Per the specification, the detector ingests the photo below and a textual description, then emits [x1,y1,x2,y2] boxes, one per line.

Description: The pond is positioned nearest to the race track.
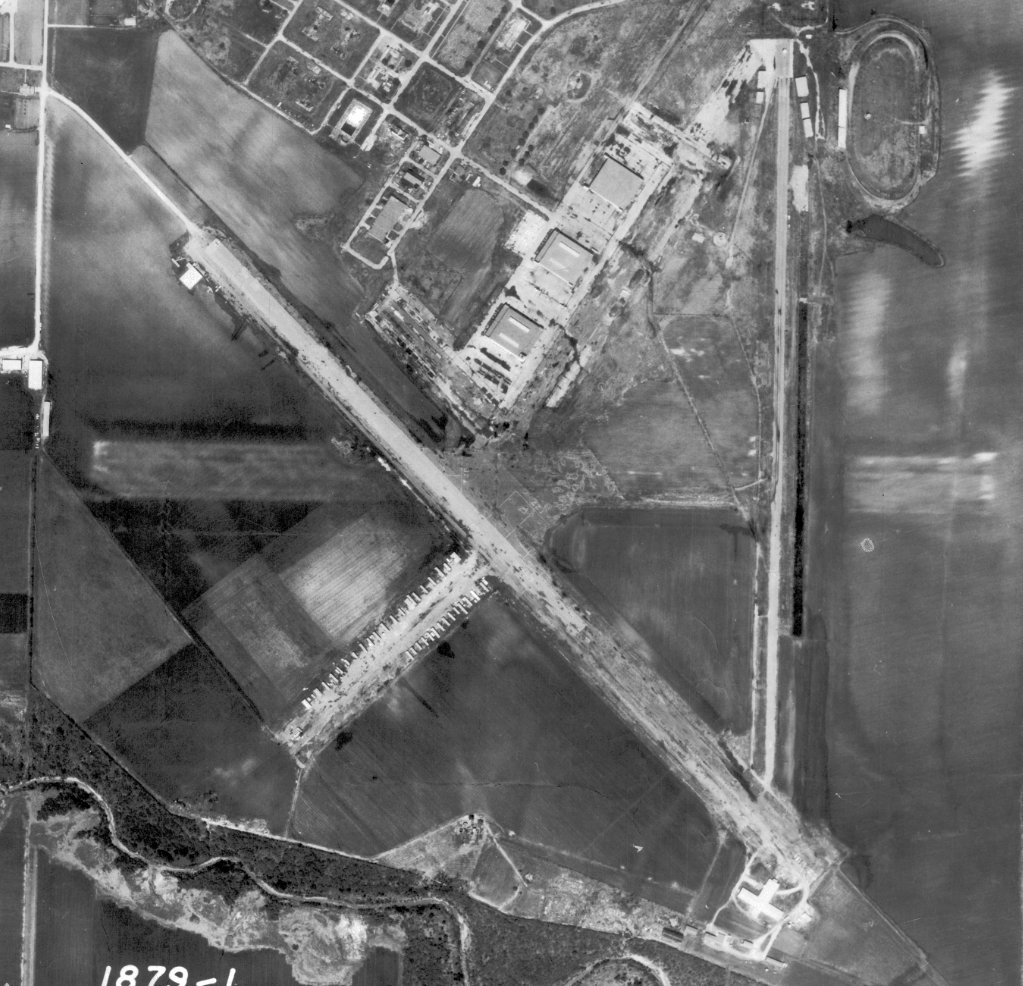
[851,216,944,268]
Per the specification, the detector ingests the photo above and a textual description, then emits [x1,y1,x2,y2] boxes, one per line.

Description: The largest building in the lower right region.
[738,878,785,922]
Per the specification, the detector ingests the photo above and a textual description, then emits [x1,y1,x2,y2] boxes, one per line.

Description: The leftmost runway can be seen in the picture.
[207,240,584,634]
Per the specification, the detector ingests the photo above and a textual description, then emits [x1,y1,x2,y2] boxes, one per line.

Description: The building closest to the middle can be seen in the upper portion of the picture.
[486,304,543,360]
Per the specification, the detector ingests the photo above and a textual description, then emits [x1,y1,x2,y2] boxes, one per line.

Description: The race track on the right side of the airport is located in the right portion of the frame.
[843,28,930,211]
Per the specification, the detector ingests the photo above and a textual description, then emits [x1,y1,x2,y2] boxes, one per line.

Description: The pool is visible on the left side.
[330,99,371,145]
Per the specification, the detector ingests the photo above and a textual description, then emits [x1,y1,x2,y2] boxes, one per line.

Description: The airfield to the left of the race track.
[185,40,845,888]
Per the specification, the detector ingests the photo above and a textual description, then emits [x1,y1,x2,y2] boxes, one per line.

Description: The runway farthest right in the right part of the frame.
[766,78,790,783]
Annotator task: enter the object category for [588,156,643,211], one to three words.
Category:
hangar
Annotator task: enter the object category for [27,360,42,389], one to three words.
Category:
building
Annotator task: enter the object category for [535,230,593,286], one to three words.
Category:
hangar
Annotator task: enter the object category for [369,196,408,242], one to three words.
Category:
building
